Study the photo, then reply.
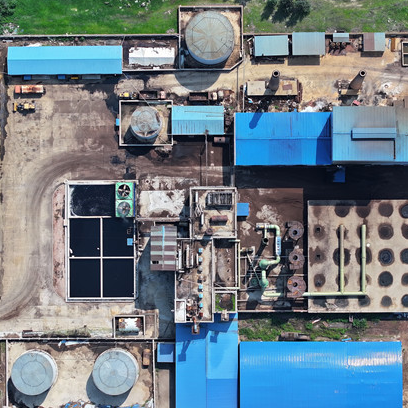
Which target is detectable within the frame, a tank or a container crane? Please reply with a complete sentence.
It is a tank that can be seen here.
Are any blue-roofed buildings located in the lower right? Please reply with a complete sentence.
Yes, a blue-roofed building is visible in the lower right.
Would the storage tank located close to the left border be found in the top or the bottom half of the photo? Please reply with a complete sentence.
You can find the storage tank located close to the left border in the bottom half.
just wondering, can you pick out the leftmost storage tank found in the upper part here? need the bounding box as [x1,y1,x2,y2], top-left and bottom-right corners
[131,106,166,141]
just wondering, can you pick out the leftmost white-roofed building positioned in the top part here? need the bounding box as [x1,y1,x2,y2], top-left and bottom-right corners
[127,47,176,66]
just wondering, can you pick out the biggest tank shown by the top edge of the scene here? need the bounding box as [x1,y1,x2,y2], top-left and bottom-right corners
[184,10,234,64]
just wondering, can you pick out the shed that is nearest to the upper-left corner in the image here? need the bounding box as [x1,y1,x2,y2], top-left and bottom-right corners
[6,45,123,76]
